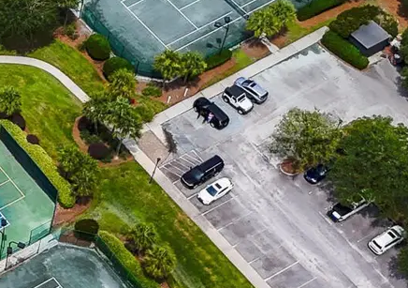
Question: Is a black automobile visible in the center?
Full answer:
Yes, the scene does show a black automobile in the center.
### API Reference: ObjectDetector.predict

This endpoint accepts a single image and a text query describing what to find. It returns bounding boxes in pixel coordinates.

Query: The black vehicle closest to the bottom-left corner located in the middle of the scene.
[180,155,224,188]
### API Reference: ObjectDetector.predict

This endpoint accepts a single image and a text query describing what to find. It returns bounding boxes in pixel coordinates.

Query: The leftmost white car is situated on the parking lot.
[195,177,234,205]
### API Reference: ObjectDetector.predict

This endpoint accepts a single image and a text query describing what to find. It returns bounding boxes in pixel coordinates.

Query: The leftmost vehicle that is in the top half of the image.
[193,98,229,131]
